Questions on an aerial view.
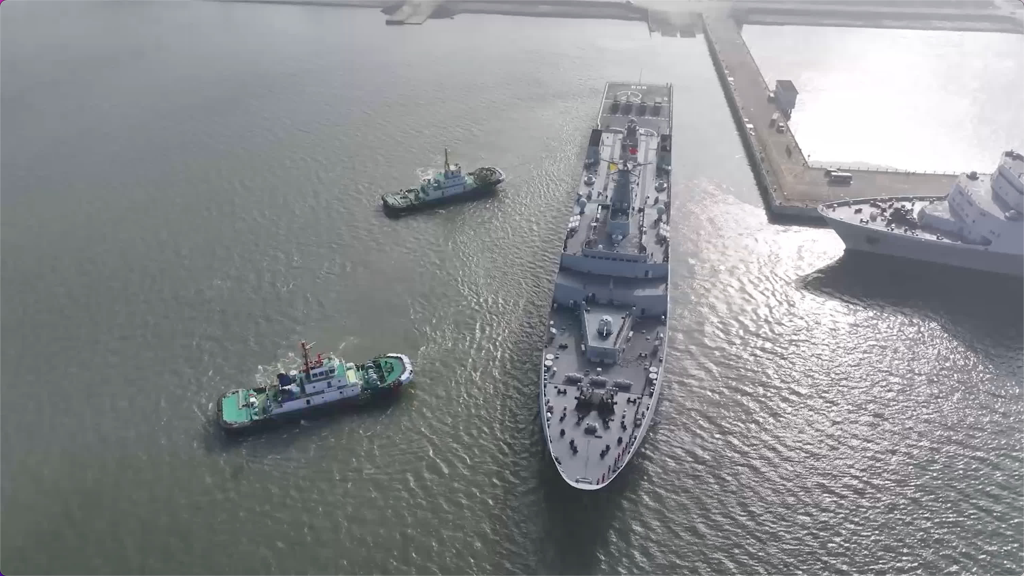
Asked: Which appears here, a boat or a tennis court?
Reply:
boat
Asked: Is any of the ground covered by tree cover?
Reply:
No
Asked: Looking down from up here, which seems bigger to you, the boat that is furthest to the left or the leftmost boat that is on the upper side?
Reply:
the boat that is furthest to the left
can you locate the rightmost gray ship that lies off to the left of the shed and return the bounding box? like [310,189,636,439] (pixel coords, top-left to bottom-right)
[540,65,673,491]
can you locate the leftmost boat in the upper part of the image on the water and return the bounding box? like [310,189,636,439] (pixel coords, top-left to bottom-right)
[382,141,509,214]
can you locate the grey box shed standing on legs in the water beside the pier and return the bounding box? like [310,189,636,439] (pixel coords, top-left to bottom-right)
[772,81,799,124]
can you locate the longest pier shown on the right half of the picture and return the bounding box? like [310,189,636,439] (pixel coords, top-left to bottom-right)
[696,1,1000,227]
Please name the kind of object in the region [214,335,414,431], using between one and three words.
boat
